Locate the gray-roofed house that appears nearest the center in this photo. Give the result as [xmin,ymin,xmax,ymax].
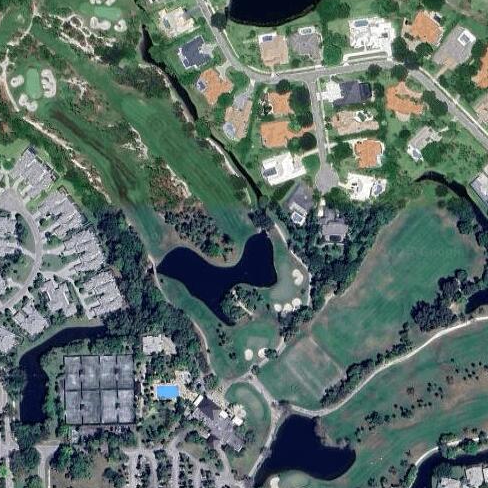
[287,183,317,228]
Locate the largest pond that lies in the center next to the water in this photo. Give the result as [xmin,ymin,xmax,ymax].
[158,233,276,324]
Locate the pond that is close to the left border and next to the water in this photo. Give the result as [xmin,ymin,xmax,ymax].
[20,326,108,425]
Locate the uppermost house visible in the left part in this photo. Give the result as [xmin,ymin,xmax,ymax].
[158,4,206,37]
